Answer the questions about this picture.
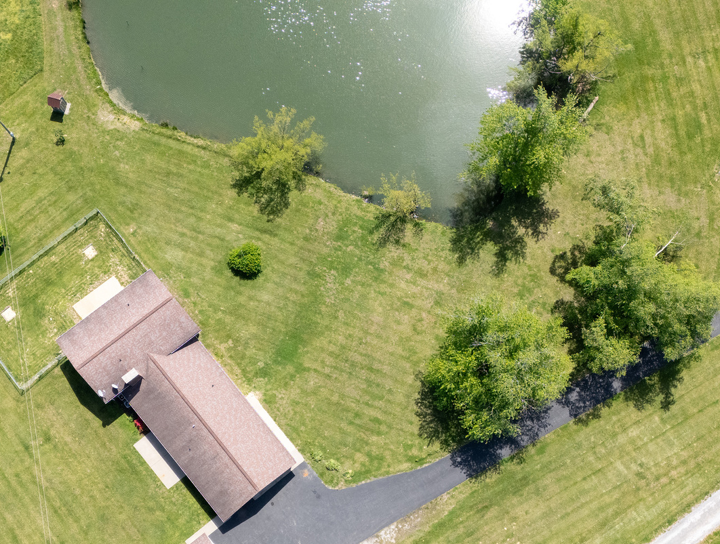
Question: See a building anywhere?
Yes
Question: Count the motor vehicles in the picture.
0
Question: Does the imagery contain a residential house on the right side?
No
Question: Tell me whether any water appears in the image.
Yes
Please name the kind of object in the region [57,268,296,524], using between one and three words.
house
